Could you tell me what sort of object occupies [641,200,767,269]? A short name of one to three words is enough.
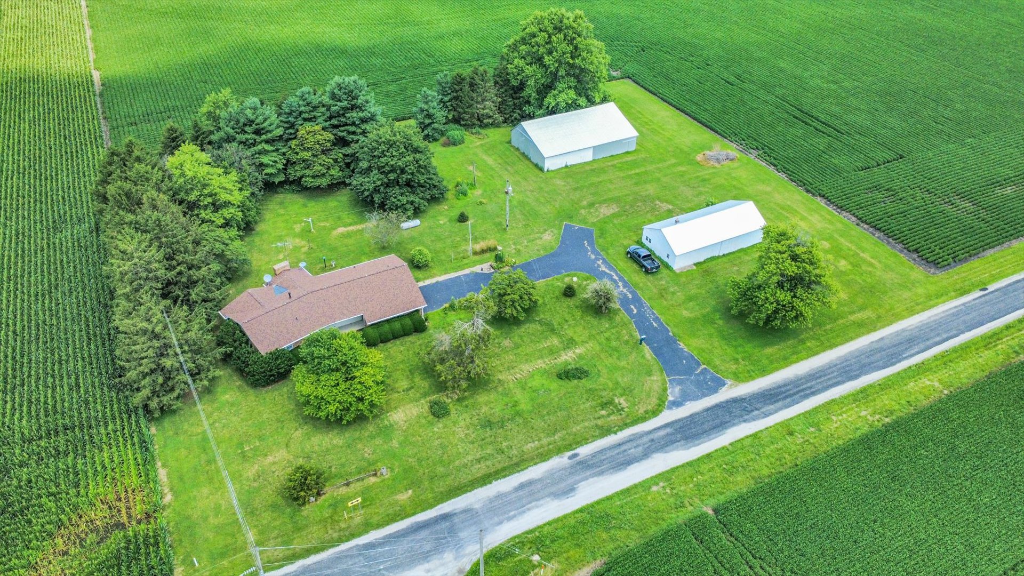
shed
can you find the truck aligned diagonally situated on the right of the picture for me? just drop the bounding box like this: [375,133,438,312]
[627,244,663,272]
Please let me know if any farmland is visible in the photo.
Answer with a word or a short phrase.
Yes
